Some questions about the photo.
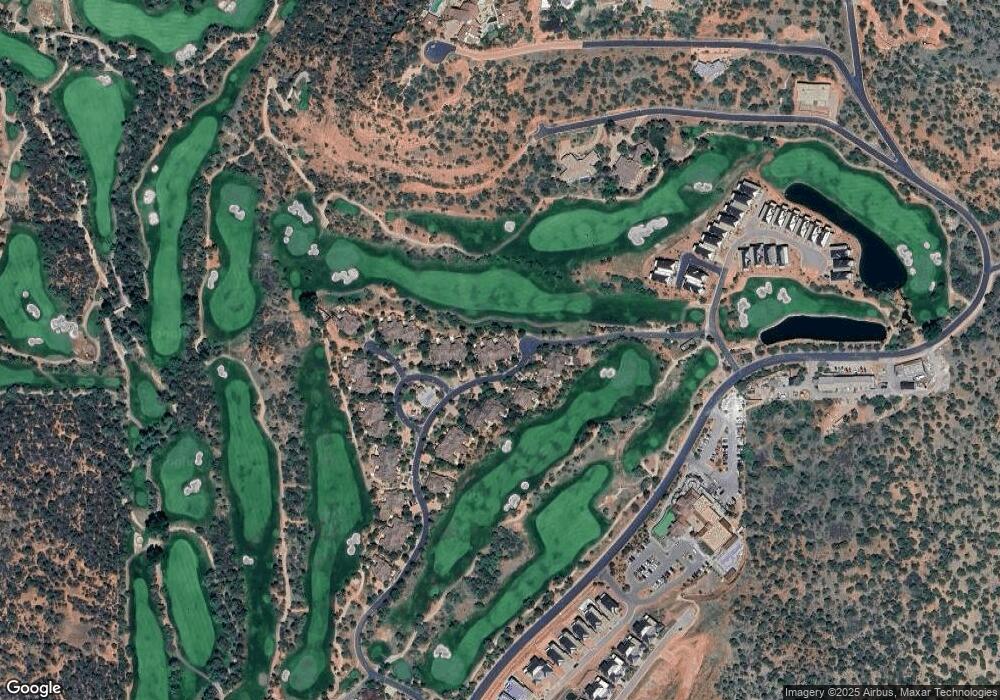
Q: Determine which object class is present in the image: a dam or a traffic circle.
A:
traffic circle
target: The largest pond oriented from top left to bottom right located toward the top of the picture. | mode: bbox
[785,184,905,289]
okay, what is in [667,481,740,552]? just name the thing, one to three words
building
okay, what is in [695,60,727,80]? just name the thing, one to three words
house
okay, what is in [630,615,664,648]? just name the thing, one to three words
house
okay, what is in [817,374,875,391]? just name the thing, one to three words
shed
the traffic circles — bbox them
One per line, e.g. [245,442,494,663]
[395,373,449,432]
